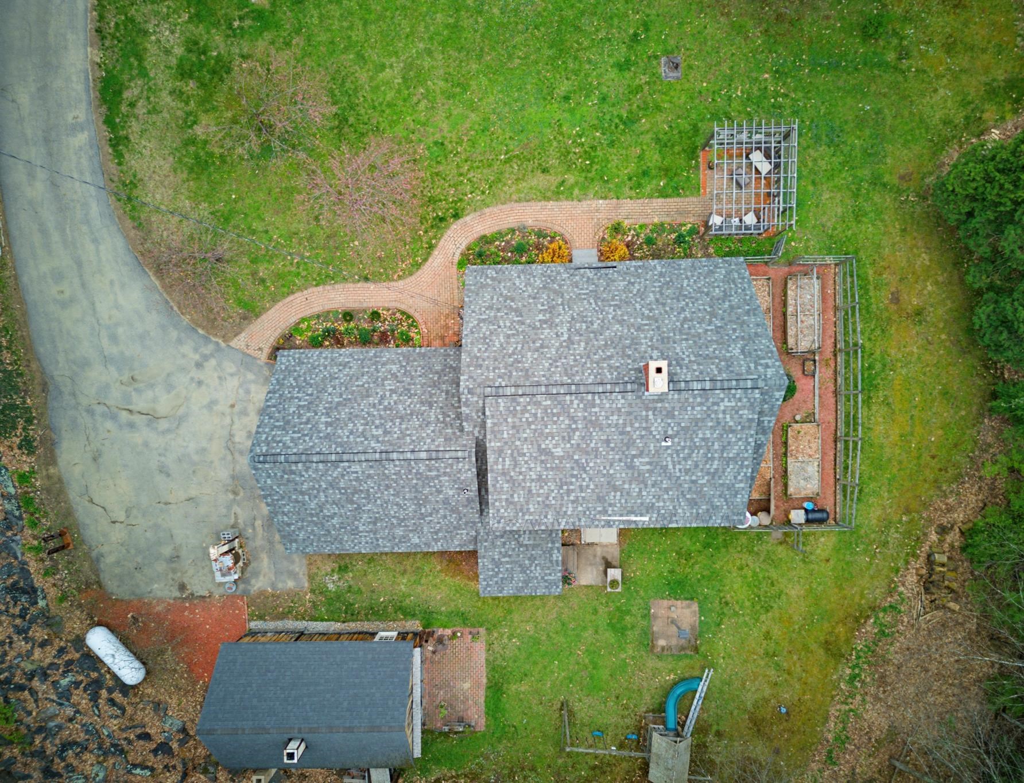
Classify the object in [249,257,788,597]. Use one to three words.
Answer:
house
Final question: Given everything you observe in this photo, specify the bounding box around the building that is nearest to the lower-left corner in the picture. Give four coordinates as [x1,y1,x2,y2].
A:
[197,626,422,768]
